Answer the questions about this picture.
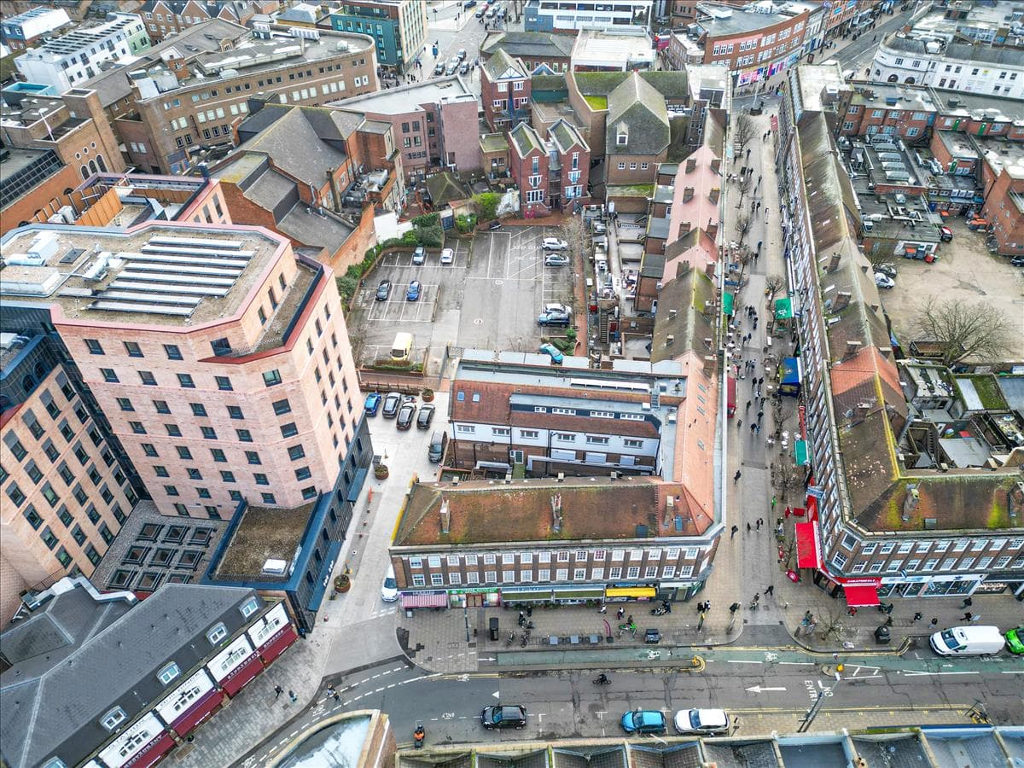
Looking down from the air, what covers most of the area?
buildings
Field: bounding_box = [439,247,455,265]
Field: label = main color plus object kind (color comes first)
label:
white car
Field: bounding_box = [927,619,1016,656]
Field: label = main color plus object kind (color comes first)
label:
white van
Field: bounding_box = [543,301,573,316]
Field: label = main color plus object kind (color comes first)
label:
white car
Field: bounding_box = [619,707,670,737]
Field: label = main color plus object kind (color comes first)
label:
blue car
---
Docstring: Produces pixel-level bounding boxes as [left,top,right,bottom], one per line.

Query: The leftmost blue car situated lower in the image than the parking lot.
[362,392,383,418]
